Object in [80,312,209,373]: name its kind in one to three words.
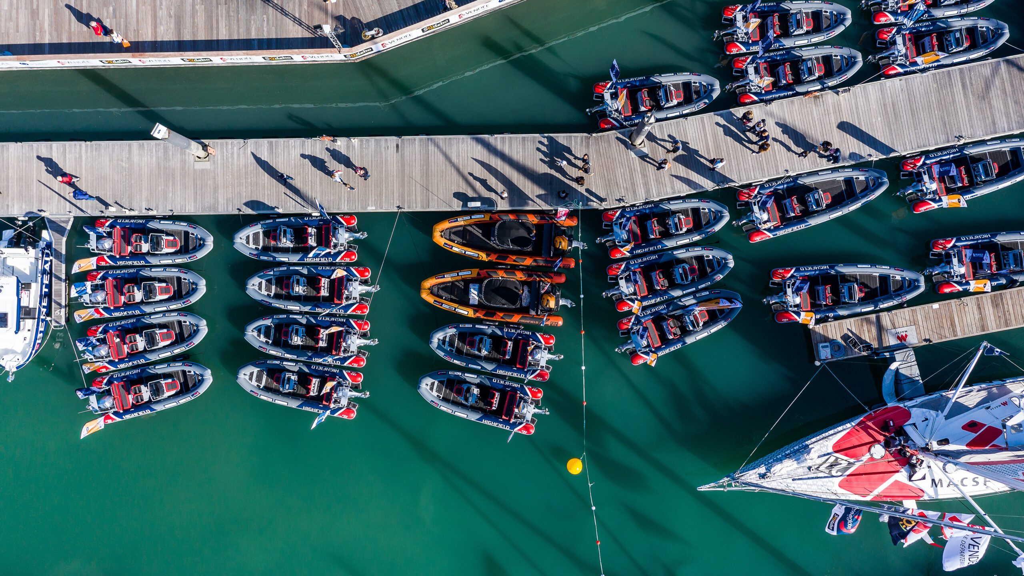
boat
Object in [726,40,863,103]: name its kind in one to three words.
boat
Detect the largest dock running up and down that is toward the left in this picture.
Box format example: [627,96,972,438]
[45,216,79,331]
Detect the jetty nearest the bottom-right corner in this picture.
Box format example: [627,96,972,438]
[805,286,1024,367]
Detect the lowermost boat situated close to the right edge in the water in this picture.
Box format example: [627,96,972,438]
[698,343,1024,576]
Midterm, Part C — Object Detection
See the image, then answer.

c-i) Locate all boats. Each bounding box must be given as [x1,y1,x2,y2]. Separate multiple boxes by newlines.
[234,204,365,263]
[615,293,746,366]
[726,40,863,103]
[416,371,546,441]
[602,248,736,314]
[429,322,560,384]
[245,314,376,367]
[597,198,731,257]
[588,63,721,129]
[869,9,1009,76]
[764,262,925,325]
[421,266,572,326]
[733,166,890,240]
[896,139,1024,211]
[71,267,207,323]
[238,360,368,428]
[80,312,209,373]
[80,361,215,437]
[862,0,983,23]
[247,265,378,316]
[924,229,1024,293]
[72,218,214,273]
[715,0,851,53]
[698,343,1024,576]
[433,212,584,270]
[0,215,52,389]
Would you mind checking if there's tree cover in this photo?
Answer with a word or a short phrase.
No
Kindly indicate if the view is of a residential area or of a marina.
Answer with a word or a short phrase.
marina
